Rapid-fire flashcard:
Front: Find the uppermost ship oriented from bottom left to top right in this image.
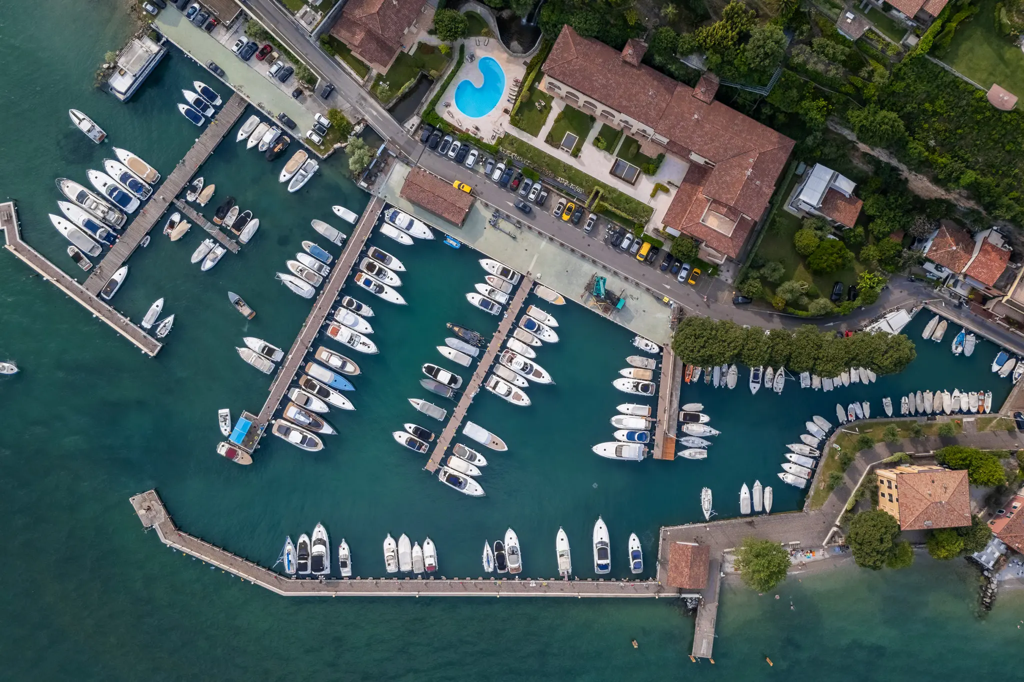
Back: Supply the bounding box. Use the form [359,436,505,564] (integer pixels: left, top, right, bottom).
[103,30,167,98]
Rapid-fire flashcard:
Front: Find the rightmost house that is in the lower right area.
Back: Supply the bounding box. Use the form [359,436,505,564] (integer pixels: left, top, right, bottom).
[982,486,1024,553]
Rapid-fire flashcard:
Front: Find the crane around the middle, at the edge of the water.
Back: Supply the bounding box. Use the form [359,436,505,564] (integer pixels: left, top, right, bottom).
[582,273,628,314]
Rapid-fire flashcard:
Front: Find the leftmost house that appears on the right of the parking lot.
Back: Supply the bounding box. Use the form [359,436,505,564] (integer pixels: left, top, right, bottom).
[329,0,427,73]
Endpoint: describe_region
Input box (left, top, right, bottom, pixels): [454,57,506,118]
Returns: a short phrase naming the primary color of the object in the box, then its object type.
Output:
blue swimming pool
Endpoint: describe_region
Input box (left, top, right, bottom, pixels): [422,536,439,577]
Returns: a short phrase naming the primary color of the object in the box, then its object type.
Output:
white boat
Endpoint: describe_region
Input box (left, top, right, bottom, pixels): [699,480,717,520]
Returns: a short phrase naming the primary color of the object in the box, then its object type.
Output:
white boat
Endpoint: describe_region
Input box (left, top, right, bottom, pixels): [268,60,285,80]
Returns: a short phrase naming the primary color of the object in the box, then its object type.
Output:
white car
